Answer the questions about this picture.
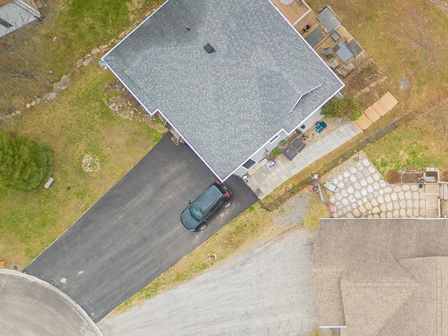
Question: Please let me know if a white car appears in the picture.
No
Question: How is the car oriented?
diagonally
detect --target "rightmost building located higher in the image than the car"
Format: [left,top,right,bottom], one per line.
[101,0,349,183]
